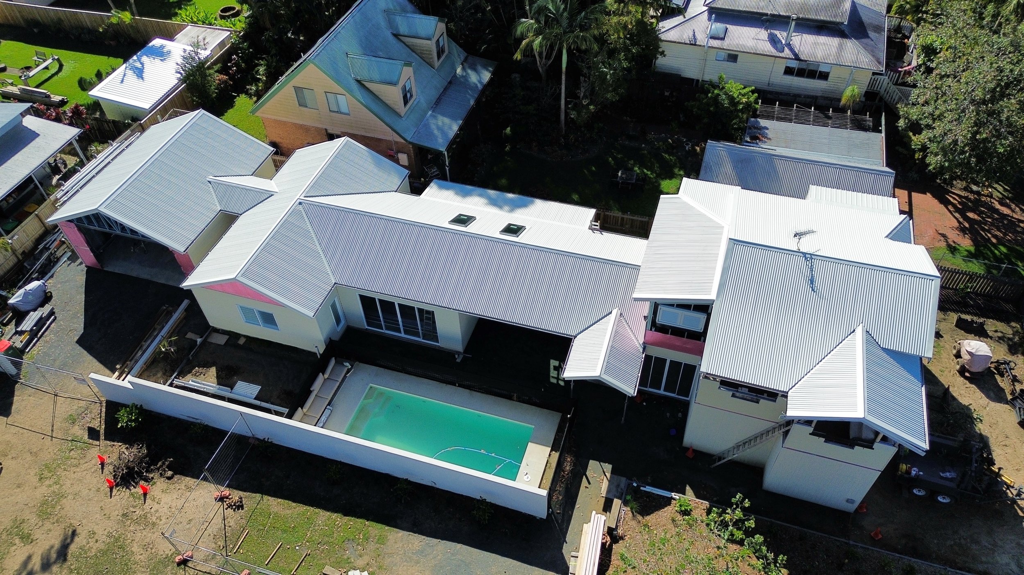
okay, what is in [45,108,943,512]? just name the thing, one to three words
house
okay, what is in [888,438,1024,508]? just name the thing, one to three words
trailer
